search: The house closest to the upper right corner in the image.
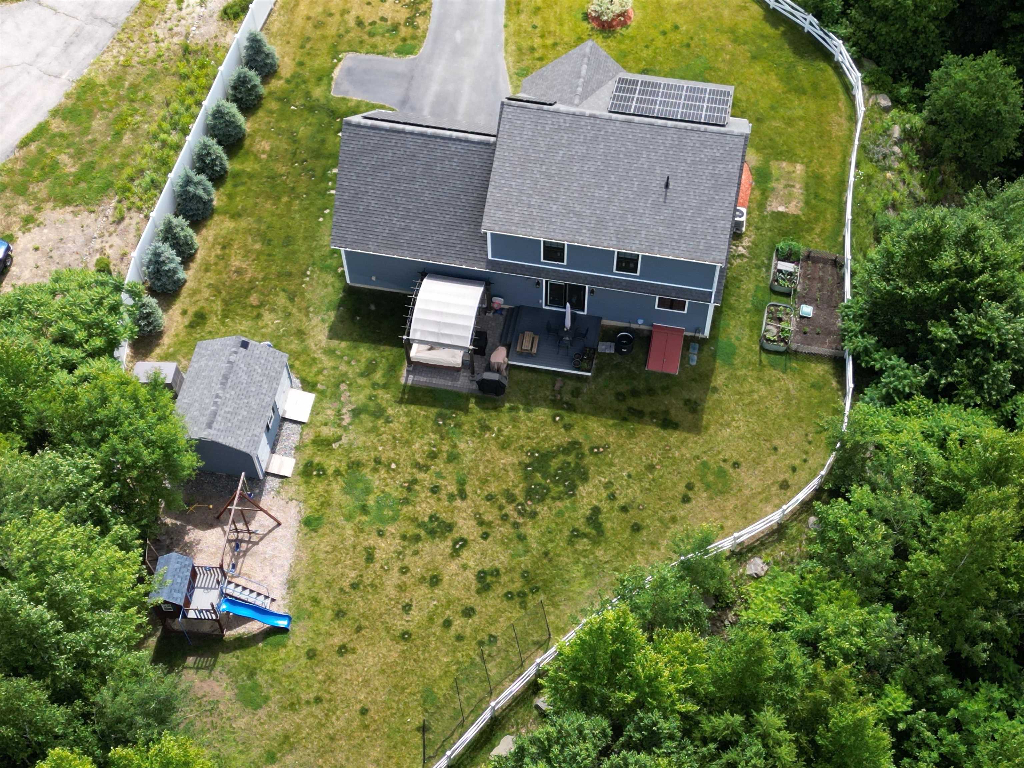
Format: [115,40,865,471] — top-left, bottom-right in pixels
[329,36,748,344]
